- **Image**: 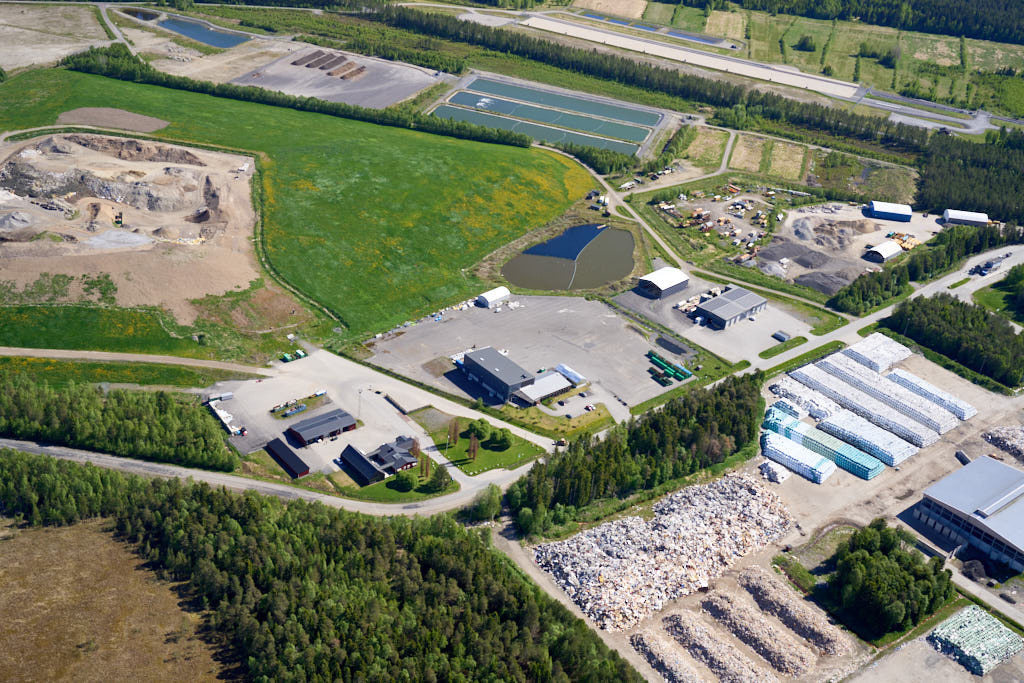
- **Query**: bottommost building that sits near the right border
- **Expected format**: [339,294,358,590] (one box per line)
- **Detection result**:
[919,453,1024,569]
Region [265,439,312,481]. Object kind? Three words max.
shed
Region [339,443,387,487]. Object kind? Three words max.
barn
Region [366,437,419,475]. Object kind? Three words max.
house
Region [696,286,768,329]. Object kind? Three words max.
building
